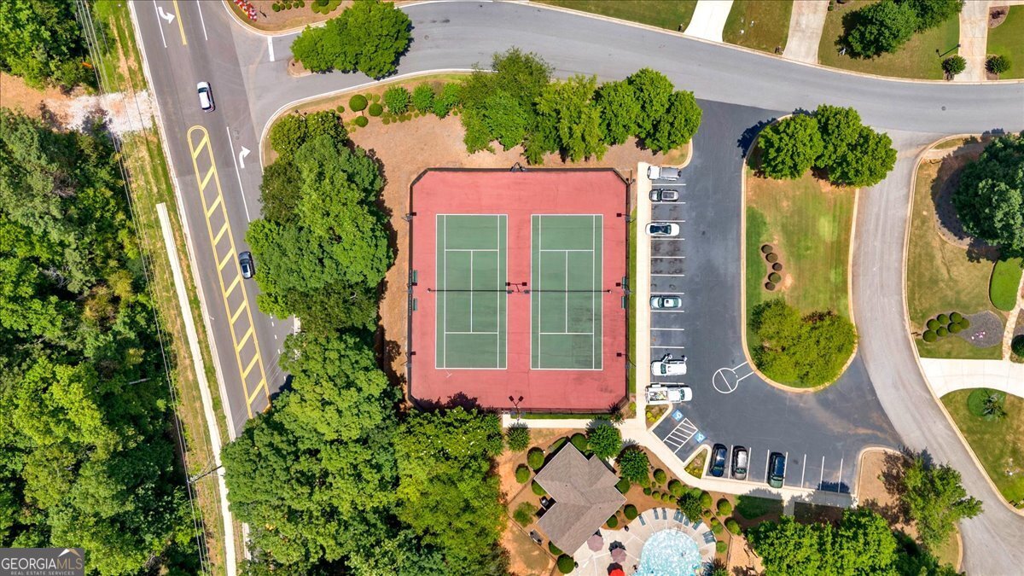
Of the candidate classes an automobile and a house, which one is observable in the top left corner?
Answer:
automobile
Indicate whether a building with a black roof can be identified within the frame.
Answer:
No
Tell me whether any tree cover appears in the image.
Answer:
Yes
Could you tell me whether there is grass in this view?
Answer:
Yes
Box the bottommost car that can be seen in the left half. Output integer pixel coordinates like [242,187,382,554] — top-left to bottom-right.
[238,250,257,280]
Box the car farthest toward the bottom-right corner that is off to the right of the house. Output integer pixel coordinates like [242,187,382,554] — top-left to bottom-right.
[768,453,786,486]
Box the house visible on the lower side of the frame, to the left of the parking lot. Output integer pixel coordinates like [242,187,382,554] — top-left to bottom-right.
[534,442,627,556]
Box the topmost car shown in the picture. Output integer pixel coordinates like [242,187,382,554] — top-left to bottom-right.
[197,82,216,112]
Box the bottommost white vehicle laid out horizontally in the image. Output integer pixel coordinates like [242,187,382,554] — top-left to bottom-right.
[645,385,693,402]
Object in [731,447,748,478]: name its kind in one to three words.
car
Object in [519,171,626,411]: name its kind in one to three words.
tennis court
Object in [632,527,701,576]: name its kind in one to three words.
swimming pool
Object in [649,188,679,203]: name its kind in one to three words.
car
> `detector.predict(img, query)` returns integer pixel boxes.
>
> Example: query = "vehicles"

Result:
[650,295,682,309]
[710,445,727,476]
[768,453,786,486]
[197,82,216,112]
[649,165,682,180]
[652,356,687,376]
[238,250,257,280]
[649,188,679,203]
[731,447,748,478]
[646,222,679,237]
[645,385,693,402]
